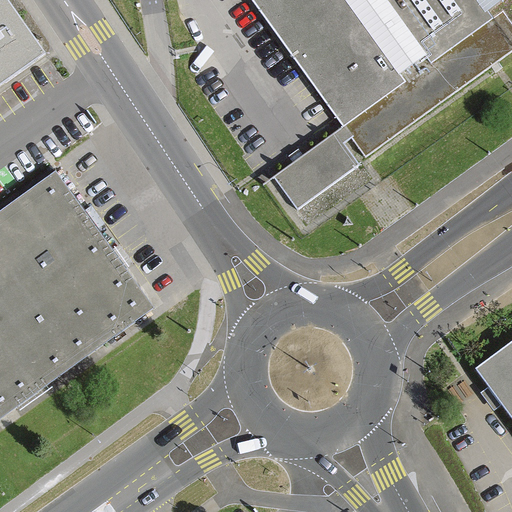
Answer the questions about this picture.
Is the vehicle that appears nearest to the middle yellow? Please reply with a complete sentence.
No, the vehicle that appears nearest to the middle is actually white.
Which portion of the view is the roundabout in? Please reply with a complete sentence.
The roundabout is in the bottom part of the image.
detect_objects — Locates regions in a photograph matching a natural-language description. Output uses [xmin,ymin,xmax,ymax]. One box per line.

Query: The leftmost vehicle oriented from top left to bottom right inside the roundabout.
[292,282,318,304]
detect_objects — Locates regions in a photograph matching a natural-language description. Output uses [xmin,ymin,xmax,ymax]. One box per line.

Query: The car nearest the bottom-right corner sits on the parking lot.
[482,483,504,502]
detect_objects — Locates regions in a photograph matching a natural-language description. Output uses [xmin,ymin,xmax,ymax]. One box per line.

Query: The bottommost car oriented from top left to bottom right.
[316,455,338,474]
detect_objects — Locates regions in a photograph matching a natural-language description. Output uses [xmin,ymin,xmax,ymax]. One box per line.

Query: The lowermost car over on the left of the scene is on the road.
[140,488,162,505]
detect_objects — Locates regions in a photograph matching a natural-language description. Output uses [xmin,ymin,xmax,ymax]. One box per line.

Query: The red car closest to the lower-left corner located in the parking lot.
[154,274,174,292]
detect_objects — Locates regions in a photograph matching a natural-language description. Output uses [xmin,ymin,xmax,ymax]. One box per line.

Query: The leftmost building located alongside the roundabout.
[0,170,154,419]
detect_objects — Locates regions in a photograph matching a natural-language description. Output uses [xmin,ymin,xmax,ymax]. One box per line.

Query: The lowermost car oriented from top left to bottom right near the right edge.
[486,414,506,436]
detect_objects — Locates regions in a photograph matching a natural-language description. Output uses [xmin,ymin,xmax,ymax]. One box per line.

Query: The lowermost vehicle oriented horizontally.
[238,438,270,452]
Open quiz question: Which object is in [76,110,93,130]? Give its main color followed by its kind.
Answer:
white car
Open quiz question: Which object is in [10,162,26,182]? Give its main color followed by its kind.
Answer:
white car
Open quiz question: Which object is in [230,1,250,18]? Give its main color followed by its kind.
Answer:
red car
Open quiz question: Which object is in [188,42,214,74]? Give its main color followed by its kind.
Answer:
white vehicle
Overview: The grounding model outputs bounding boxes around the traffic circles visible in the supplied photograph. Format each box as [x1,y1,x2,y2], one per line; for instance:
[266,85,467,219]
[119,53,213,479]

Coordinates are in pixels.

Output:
[210,276,408,483]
